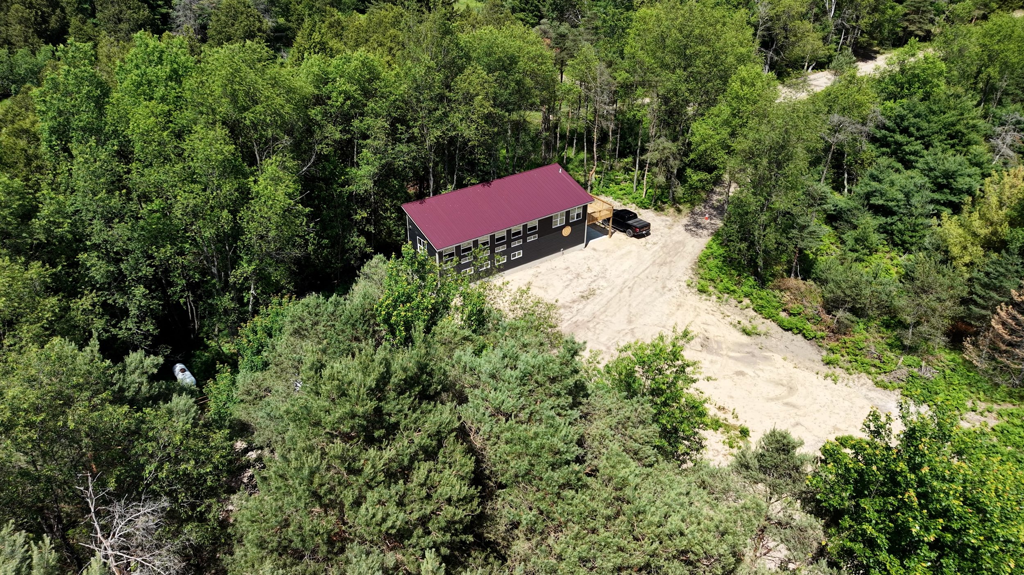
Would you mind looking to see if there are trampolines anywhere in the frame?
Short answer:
No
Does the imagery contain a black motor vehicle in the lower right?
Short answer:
No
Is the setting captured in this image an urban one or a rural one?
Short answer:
rural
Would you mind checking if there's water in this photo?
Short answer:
No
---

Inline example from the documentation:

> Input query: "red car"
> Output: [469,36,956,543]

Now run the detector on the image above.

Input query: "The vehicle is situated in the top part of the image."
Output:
[605,210,653,237]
